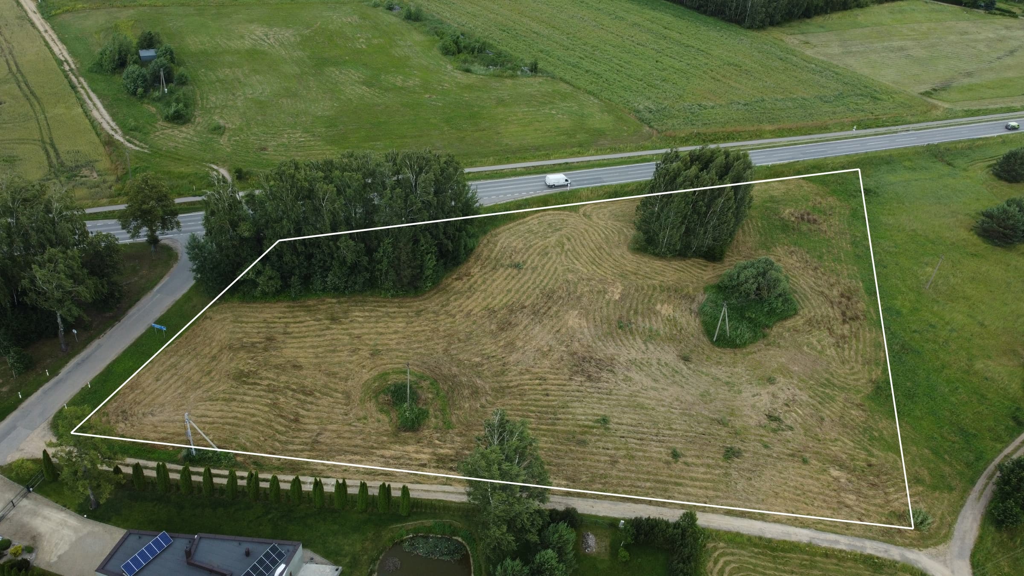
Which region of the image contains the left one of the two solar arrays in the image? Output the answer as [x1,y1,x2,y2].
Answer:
[121,529,175,573]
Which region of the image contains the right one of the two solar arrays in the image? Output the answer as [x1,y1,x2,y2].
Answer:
[239,541,289,576]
